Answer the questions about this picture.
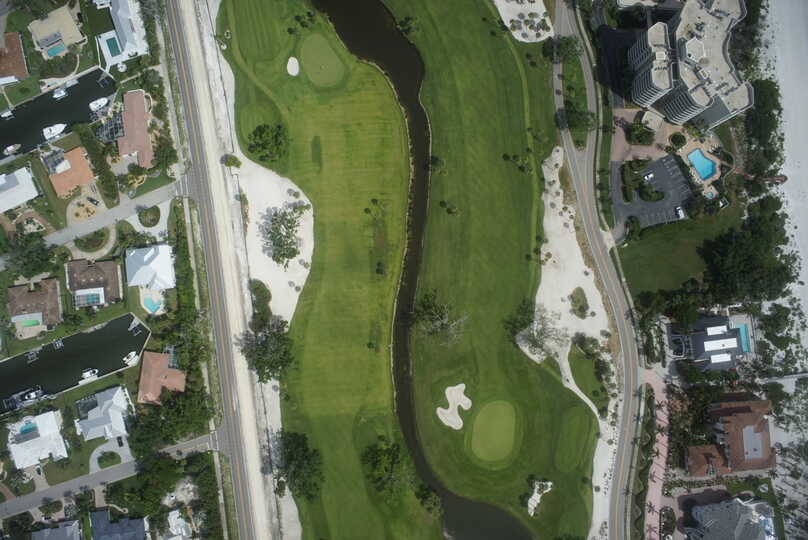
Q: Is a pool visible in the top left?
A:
Yes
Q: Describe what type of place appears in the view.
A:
golf course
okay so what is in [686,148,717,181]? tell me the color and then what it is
blue swimming pool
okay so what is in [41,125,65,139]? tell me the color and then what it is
white boat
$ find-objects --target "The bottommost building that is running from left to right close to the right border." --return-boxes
[682,497,775,540]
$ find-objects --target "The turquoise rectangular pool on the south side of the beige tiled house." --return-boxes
[40,38,70,60]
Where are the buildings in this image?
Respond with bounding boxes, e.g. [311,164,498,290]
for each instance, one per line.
[170,511,193,540]
[66,261,122,304]
[139,351,186,403]
[0,32,29,81]
[117,91,155,168]
[29,6,86,48]
[33,519,86,540]
[79,387,128,441]
[10,411,69,469]
[686,316,744,370]
[628,0,754,127]
[93,0,139,53]
[612,0,661,13]
[642,111,664,131]
[0,167,38,214]
[48,147,96,198]
[8,278,63,324]
[92,508,148,540]
[682,497,775,540]
[126,246,177,290]
[716,398,776,474]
